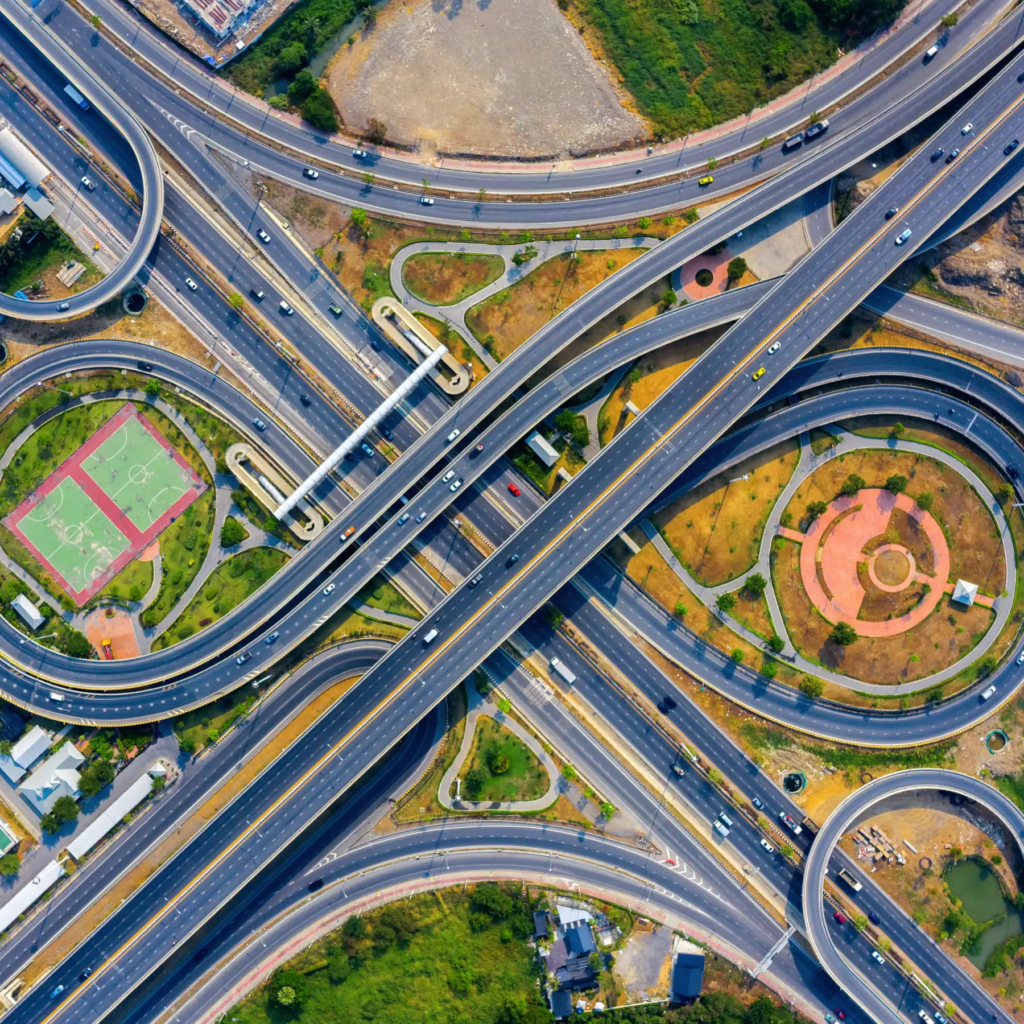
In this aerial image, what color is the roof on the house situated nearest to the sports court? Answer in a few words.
white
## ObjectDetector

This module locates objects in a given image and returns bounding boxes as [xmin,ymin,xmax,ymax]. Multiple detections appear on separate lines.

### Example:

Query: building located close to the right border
[948,579,978,606]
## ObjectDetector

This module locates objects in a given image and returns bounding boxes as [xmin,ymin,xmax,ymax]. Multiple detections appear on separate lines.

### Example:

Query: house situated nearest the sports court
[13,593,47,630]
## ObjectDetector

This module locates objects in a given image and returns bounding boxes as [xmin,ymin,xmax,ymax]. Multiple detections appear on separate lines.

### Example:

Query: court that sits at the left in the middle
[1,403,208,606]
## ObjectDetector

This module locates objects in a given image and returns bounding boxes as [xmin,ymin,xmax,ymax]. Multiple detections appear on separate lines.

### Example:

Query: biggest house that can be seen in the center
[526,430,560,466]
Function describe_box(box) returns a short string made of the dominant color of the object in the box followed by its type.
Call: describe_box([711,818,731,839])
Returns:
white vehicle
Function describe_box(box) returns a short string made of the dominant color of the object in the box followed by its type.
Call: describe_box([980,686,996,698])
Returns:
white vehicle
